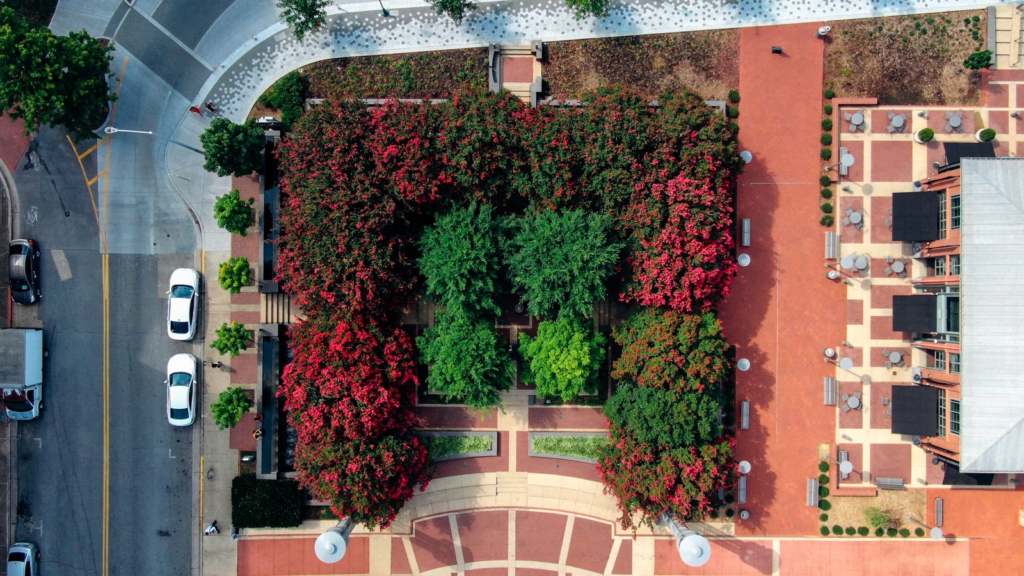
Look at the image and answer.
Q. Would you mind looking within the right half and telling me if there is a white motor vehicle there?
No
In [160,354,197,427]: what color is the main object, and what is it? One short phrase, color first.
white car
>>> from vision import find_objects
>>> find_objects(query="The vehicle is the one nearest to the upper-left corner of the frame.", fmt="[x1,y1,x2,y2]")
[1,237,40,304]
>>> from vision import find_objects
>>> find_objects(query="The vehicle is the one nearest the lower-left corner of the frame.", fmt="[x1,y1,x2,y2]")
[5,544,40,576]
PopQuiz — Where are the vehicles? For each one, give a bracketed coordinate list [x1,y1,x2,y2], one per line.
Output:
[0,323,51,420]
[1,237,40,304]
[161,268,198,340]
[160,354,197,427]
[5,544,40,576]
